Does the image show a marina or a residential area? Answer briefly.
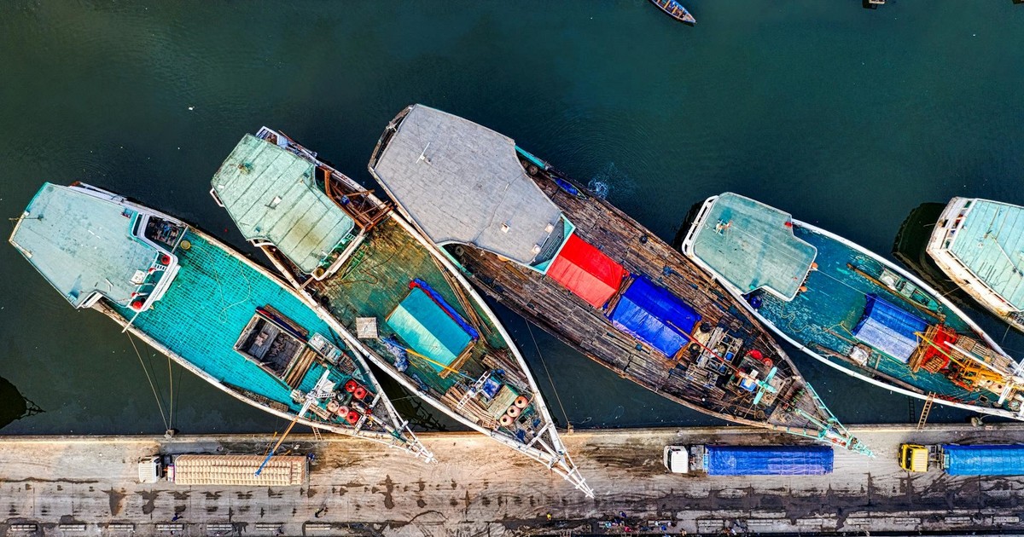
marina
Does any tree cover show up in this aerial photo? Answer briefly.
No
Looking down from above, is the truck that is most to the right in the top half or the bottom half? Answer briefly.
bottom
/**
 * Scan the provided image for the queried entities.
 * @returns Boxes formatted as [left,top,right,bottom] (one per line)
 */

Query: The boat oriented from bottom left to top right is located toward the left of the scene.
[340,244,368,279]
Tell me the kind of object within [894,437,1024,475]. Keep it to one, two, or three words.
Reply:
truck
